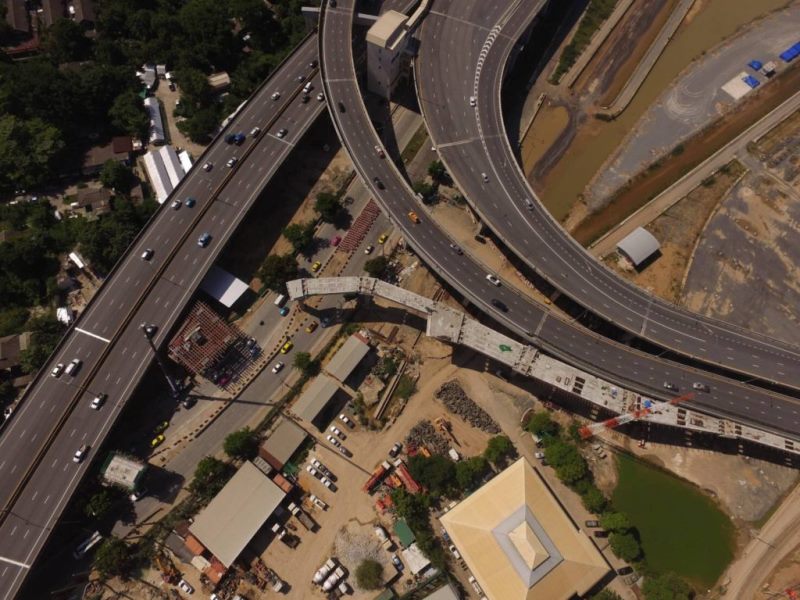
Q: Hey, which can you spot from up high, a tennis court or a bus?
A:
bus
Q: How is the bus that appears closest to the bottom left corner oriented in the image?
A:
at an angle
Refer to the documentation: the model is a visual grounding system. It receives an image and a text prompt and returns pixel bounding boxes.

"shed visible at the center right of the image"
[612,227,660,271]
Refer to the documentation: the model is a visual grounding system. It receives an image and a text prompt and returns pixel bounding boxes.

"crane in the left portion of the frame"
[140,325,198,412]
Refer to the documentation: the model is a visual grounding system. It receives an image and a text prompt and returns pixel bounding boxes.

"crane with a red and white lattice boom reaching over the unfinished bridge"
[550,391,696,441]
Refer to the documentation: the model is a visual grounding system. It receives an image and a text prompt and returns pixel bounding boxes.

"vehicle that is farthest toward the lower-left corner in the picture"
[62,524,106,565]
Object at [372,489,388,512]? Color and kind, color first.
red work vehicle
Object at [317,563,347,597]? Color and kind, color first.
white truck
